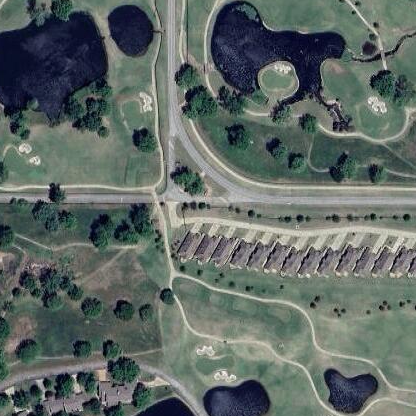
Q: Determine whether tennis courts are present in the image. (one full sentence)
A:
No, no tennis court is visible in the view.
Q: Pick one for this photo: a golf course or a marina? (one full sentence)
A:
This image shows a golf course.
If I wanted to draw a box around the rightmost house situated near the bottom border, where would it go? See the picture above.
[100,382,136,405]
